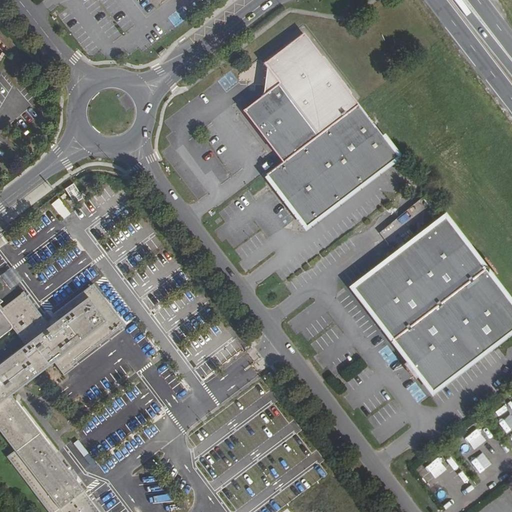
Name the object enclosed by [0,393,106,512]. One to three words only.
building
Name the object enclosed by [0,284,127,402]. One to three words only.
building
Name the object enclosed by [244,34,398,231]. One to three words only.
warehouse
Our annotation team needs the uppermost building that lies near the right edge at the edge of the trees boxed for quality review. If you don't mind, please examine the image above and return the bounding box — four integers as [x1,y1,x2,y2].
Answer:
[350,213,512,396]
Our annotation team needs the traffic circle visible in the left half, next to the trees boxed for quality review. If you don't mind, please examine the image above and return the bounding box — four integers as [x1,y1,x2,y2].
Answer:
[64,64,159,158]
